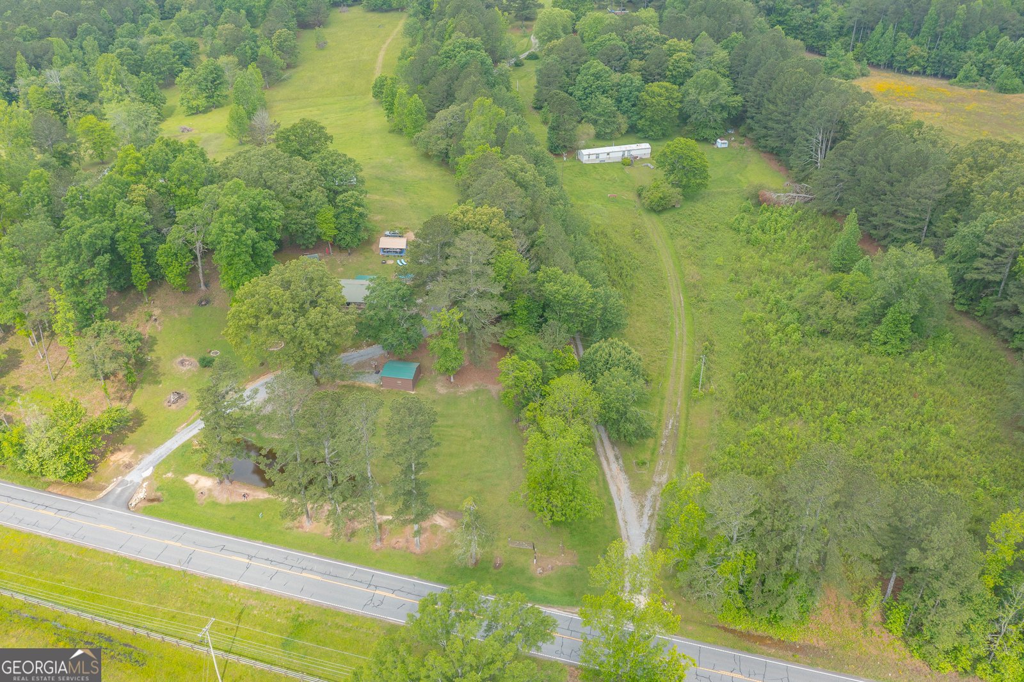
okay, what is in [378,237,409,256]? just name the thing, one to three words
building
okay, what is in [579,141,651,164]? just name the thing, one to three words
house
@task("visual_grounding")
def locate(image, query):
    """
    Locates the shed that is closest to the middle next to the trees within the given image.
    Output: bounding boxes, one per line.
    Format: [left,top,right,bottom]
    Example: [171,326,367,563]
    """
[379,357,424,392]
